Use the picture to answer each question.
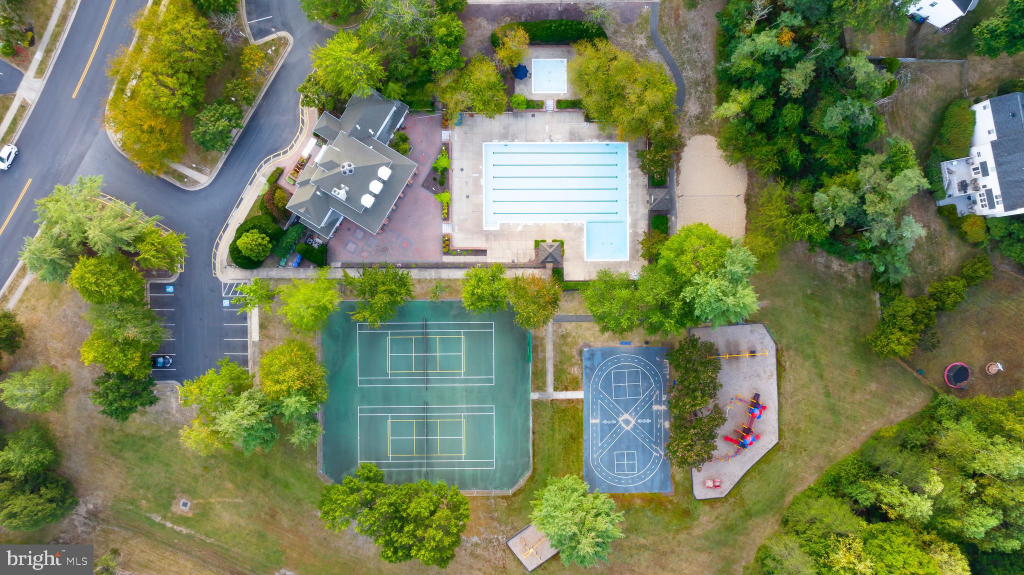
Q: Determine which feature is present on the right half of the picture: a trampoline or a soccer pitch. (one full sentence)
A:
You can see a trampoline on the right half of the picture.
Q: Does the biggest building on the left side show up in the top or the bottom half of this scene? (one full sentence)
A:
The biggest building on the left side sits in the top half of the picture.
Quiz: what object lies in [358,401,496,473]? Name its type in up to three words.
tennis court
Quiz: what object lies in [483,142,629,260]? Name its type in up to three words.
swimming pool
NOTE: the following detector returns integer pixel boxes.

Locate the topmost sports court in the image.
[677,135,747,249]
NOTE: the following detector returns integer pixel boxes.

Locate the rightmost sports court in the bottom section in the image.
[583,347,671,493]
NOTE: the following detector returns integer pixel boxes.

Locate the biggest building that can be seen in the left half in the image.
[285,84,418,239]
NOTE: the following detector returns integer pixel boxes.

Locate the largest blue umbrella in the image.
[513,64,529,80]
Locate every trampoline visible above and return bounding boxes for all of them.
[945,362,975,389]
